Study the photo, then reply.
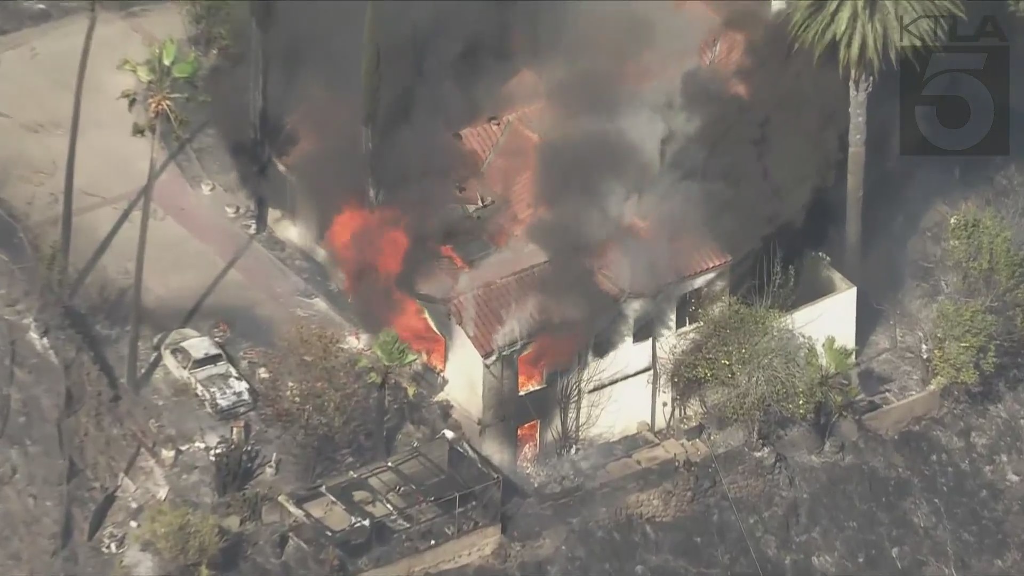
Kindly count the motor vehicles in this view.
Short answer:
one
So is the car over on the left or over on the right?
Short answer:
left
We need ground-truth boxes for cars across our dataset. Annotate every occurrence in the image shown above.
[158,321,256,420]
